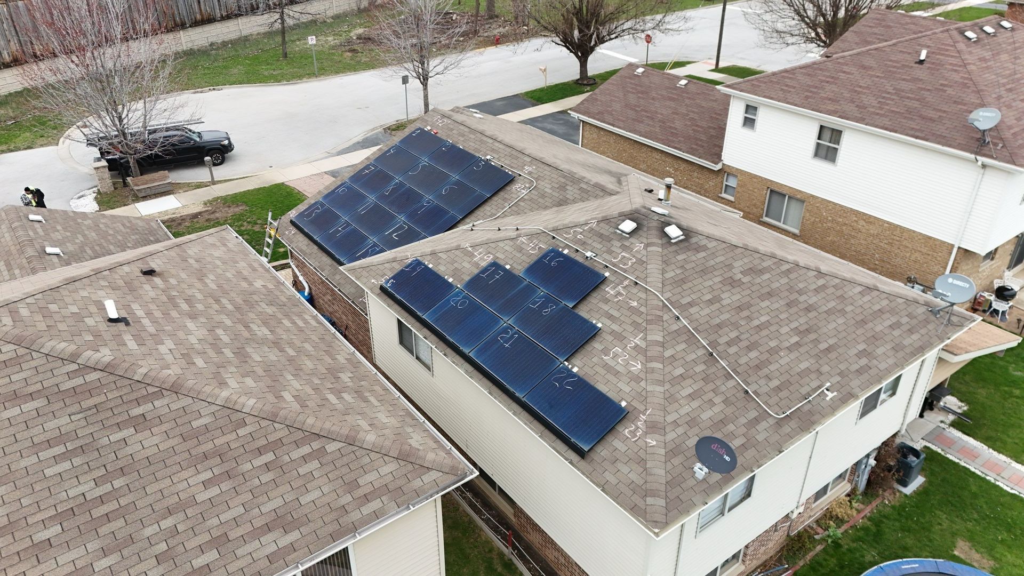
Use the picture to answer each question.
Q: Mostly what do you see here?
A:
buildings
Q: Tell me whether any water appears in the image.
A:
No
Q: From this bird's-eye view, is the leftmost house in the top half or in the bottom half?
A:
bottom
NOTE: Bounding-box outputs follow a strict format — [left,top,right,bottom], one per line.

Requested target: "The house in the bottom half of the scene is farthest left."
[0,206,476,576]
